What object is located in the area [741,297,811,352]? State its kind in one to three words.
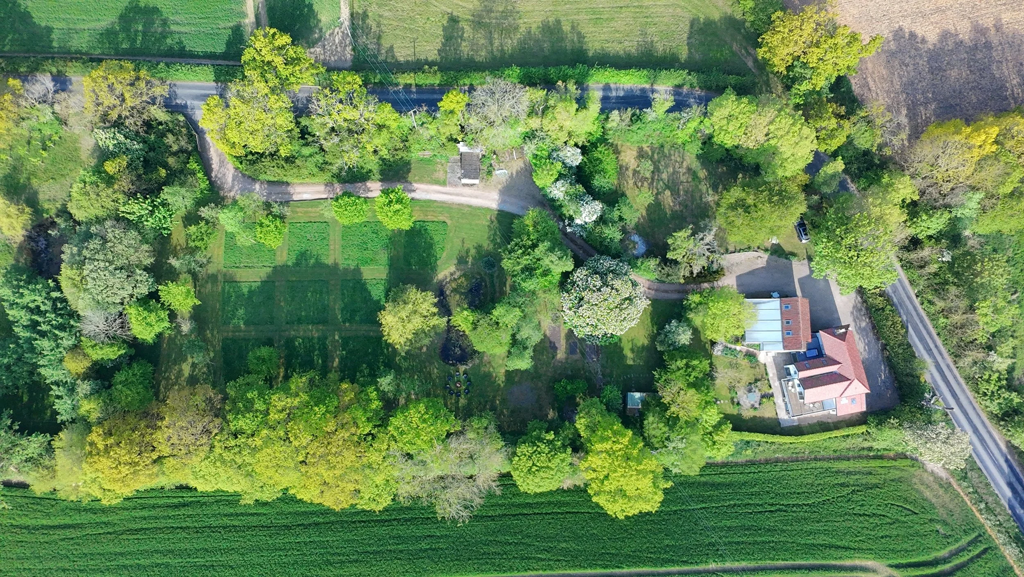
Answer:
building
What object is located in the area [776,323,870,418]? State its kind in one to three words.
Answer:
house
